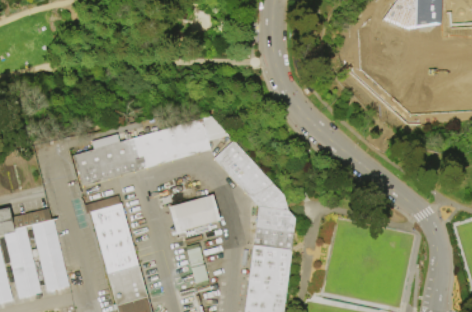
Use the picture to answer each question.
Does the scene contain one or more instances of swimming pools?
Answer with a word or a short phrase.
No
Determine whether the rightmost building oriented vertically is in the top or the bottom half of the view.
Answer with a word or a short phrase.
bottom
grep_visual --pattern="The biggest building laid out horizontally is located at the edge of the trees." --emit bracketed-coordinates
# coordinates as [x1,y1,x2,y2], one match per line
[74,120,210,185]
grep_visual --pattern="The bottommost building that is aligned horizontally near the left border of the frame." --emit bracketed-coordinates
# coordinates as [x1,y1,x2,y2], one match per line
[14,207,52,228]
